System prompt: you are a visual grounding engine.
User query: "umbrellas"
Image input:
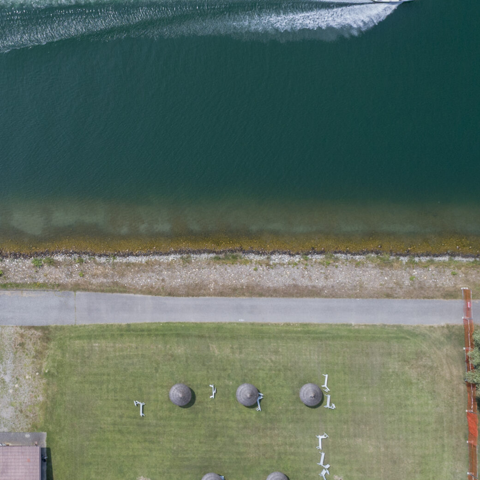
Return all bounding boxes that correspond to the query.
[202,473,223,480]
[168,384,192,406]
[299,383,322,406]
[235,384,258,406]
[267,472,287,480]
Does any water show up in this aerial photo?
Yes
